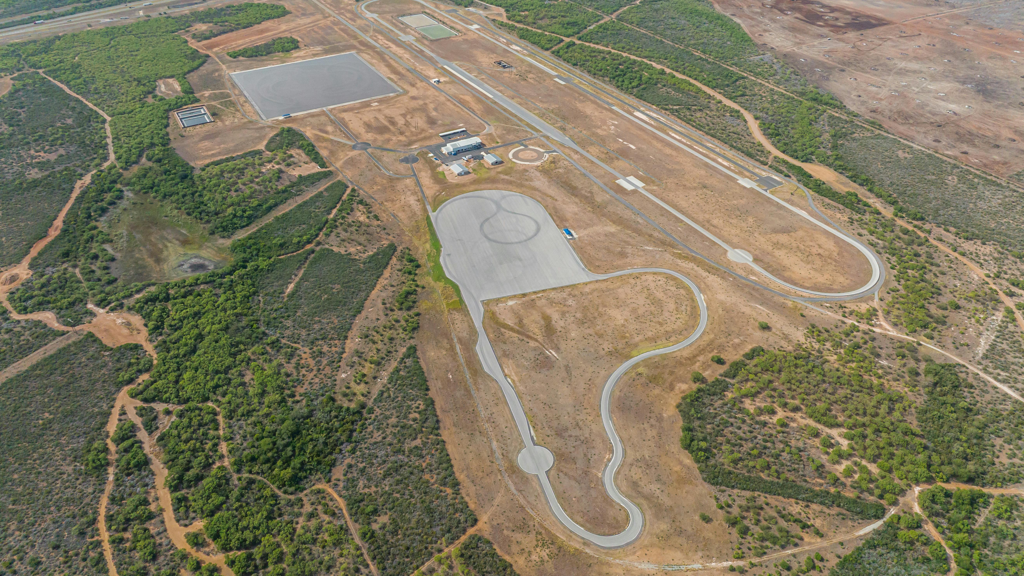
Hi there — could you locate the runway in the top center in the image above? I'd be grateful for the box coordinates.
[433,55,638,190]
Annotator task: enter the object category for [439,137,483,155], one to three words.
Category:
building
